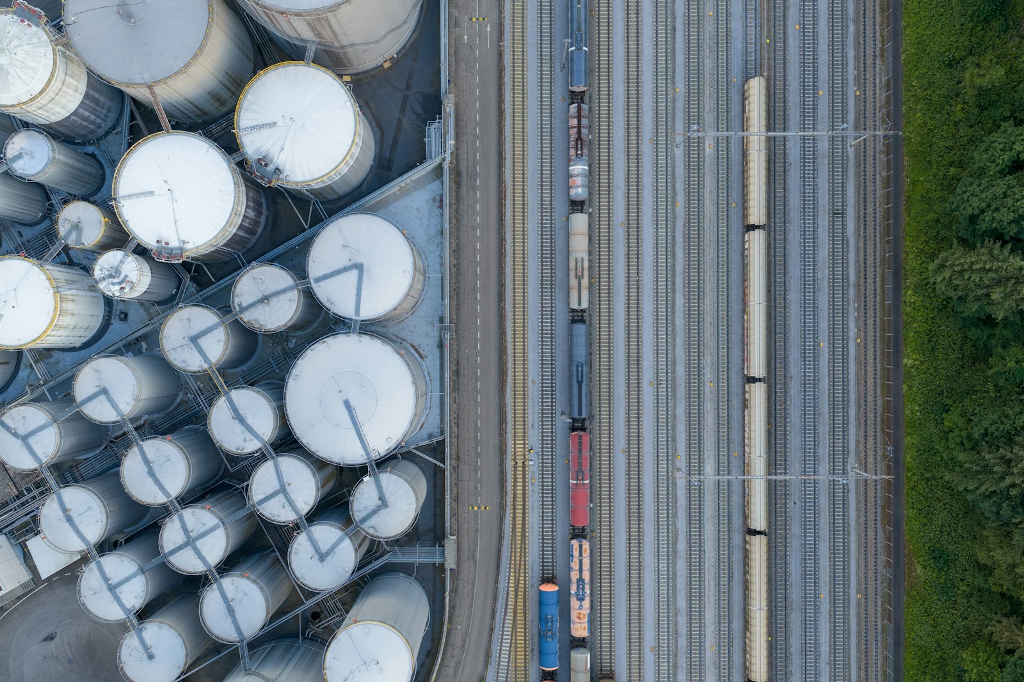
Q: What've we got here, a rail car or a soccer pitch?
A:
rail car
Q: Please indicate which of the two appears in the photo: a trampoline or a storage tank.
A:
storage tank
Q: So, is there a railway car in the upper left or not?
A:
No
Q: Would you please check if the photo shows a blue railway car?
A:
Yes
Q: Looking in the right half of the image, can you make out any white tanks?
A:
No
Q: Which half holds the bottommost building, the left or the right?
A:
left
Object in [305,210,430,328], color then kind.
white storage tank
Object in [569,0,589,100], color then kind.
blue rail car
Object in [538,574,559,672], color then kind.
blue rail car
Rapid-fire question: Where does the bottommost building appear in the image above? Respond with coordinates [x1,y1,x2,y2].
[0,526,42,598]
